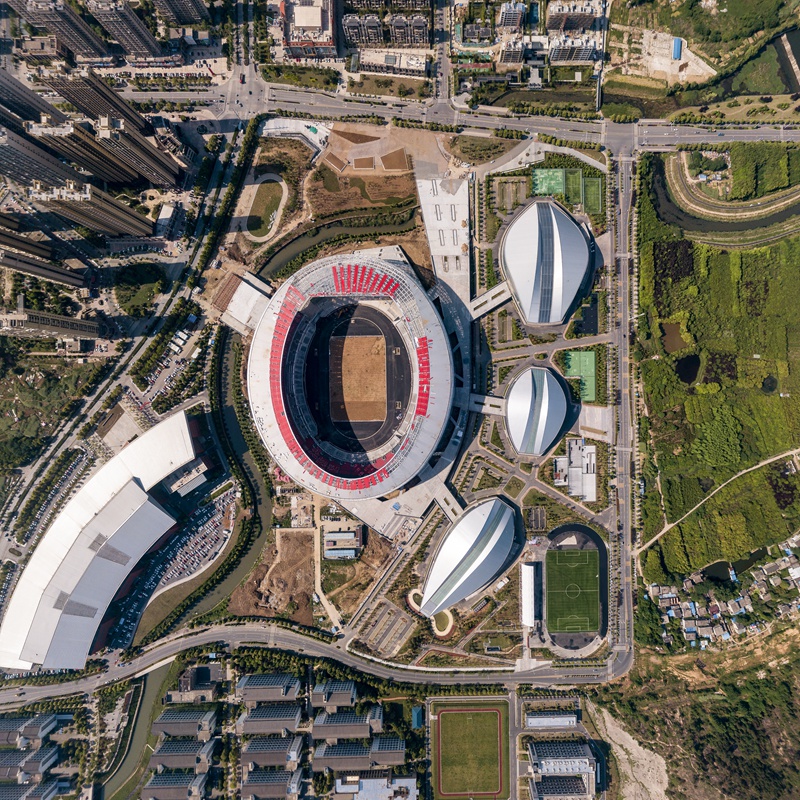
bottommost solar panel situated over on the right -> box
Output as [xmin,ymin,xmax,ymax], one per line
[537,777,584,796]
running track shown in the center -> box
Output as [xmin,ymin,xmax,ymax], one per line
[305,303,408,453]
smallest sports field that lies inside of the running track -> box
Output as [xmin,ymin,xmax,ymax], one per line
[331,336,386,401]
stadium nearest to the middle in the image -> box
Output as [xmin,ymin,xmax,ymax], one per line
[246,247,455,501]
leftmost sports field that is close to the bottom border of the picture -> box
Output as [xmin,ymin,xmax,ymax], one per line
[430,701,511,800]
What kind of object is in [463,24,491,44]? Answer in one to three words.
building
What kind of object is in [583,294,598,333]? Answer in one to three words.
sports court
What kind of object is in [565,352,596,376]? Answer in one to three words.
sports court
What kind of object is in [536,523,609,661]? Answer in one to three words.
sports field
